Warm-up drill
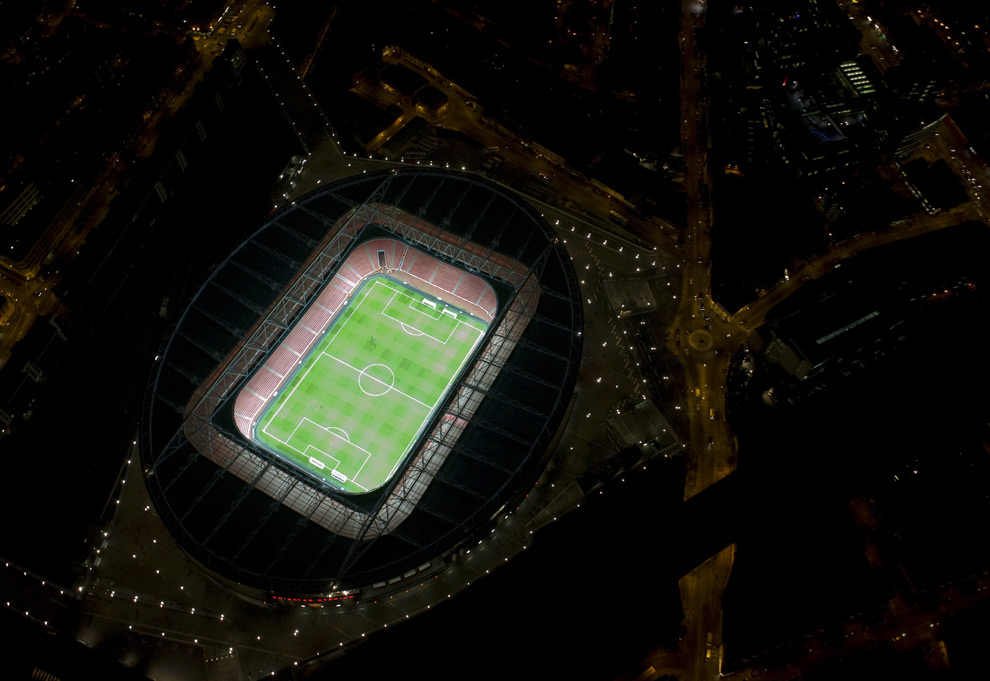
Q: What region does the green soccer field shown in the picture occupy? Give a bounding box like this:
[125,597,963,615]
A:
[248,269,494,505]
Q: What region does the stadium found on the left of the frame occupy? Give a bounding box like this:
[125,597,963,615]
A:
[139,166,584,616]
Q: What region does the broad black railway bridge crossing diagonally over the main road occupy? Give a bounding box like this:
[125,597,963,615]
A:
[680,468,737,579]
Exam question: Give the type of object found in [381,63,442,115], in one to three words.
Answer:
building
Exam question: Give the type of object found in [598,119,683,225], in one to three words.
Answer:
building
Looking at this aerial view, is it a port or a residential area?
residential area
